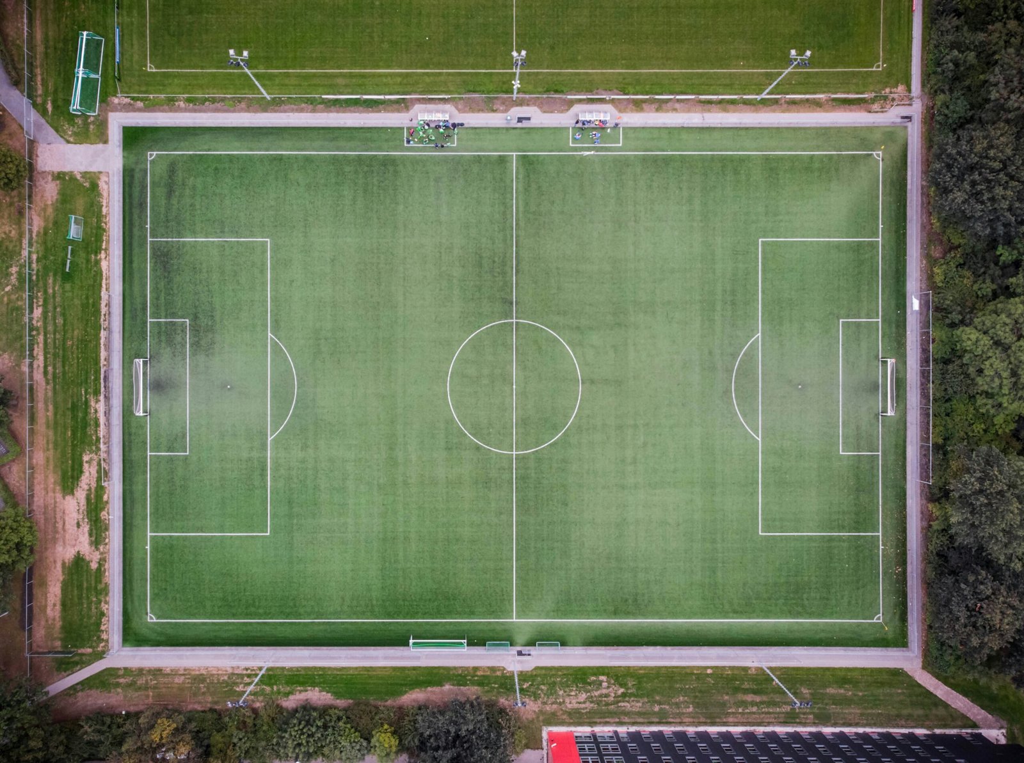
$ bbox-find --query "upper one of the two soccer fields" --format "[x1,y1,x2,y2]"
[120,0,912,96]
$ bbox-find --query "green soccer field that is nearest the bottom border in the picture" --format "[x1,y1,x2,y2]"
[123,126,907,647]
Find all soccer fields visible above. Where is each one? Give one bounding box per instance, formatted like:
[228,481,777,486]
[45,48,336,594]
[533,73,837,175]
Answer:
[123,126,907,647]
[120,0,912,96]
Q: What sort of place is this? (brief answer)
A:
sports ground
